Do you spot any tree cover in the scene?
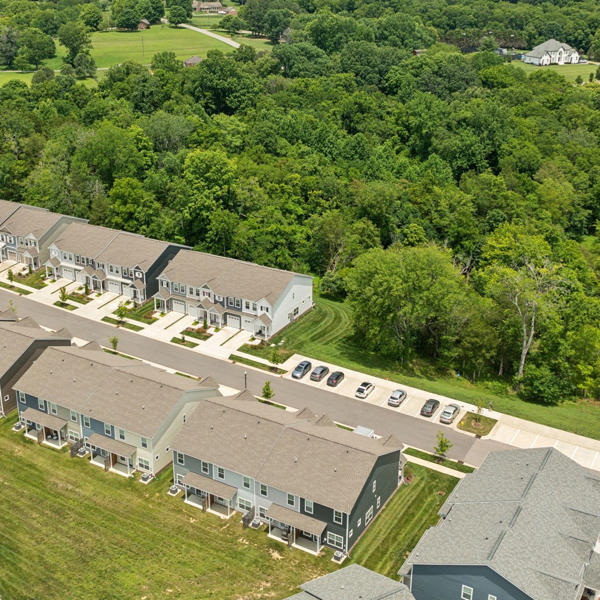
Yes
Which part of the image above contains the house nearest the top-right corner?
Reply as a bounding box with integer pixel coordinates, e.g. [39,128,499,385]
[526,39,586,66]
